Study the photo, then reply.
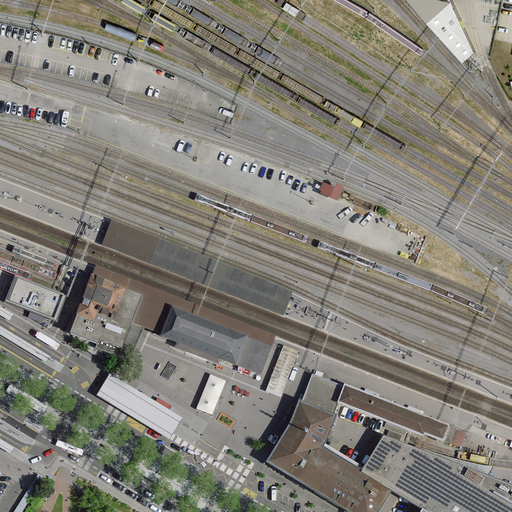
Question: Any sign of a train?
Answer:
Yes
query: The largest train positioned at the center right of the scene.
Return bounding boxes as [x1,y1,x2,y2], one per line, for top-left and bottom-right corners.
[312,239,489,314]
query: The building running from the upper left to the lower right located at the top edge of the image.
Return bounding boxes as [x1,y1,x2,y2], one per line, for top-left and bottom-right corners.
[408,0,477,70]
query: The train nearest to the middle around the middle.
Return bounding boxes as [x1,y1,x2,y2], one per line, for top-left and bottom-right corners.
[194,194,310,243]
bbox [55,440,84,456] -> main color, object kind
white vehicle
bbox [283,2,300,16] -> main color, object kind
white rail car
